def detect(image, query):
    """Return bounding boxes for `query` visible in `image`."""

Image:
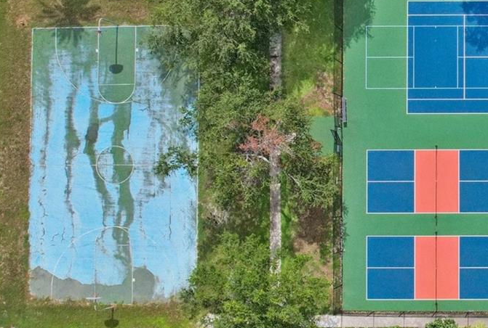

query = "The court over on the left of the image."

[28,25,198,303]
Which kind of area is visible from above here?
sports ground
